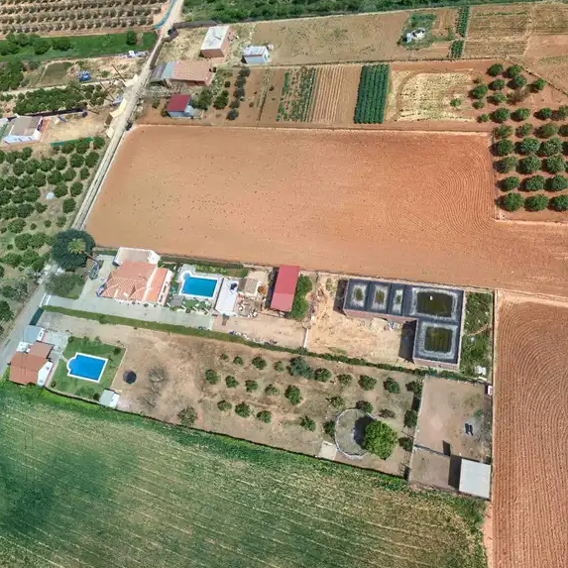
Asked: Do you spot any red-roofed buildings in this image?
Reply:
Yes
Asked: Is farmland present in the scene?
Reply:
Yes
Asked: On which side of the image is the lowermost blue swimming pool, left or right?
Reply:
left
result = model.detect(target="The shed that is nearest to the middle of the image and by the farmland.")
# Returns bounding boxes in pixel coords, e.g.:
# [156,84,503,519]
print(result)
[271,265,303,316]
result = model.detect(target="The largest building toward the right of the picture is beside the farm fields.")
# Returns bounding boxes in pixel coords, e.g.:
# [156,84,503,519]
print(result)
[344,279,464,369]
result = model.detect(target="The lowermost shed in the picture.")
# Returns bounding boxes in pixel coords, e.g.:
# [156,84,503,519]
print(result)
[459,459,491,500]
